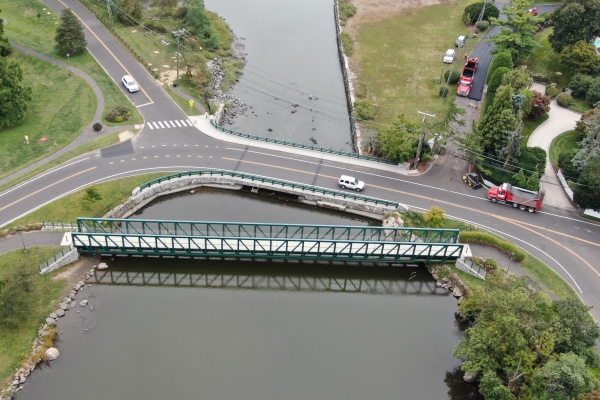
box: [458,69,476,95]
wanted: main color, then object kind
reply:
red vehicle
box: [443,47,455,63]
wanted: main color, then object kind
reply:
white vehicle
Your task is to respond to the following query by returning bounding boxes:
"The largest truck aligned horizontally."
[488,184,541,213]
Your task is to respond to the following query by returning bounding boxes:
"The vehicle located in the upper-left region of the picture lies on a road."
[122,74,138,91]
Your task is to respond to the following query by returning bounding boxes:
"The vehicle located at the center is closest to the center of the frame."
[338,175,365,192]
